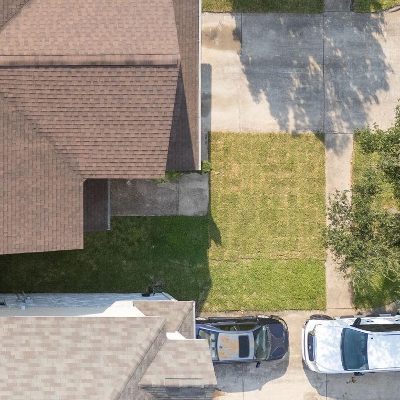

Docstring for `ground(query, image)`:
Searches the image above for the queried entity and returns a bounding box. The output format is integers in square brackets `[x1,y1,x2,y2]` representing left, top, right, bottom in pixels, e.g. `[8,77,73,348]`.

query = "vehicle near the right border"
[299,318,400,381]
